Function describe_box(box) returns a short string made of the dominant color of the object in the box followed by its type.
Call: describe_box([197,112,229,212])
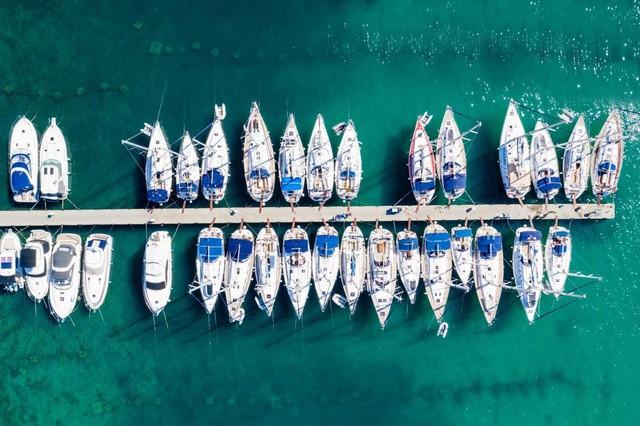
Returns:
white boat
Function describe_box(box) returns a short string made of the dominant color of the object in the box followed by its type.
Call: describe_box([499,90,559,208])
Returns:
white boat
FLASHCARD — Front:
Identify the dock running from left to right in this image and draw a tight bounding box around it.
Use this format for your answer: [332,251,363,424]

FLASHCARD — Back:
[0,202,614,226]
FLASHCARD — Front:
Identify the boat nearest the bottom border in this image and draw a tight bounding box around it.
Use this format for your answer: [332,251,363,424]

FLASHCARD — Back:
[437,323,449,340]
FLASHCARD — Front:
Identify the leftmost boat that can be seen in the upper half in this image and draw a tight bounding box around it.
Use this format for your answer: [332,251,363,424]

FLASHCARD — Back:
[7,114,43,211]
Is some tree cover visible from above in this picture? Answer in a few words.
No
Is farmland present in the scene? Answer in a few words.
No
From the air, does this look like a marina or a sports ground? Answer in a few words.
marina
